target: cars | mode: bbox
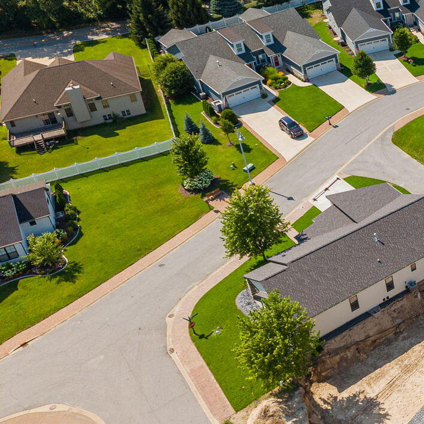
[278,115,302,137]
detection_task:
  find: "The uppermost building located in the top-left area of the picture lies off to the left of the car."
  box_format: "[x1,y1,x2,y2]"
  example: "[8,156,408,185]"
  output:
[0,44,146,152]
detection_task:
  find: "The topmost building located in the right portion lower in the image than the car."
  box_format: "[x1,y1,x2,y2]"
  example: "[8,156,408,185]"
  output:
[238,184,424,338]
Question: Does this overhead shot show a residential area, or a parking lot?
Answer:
residential area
